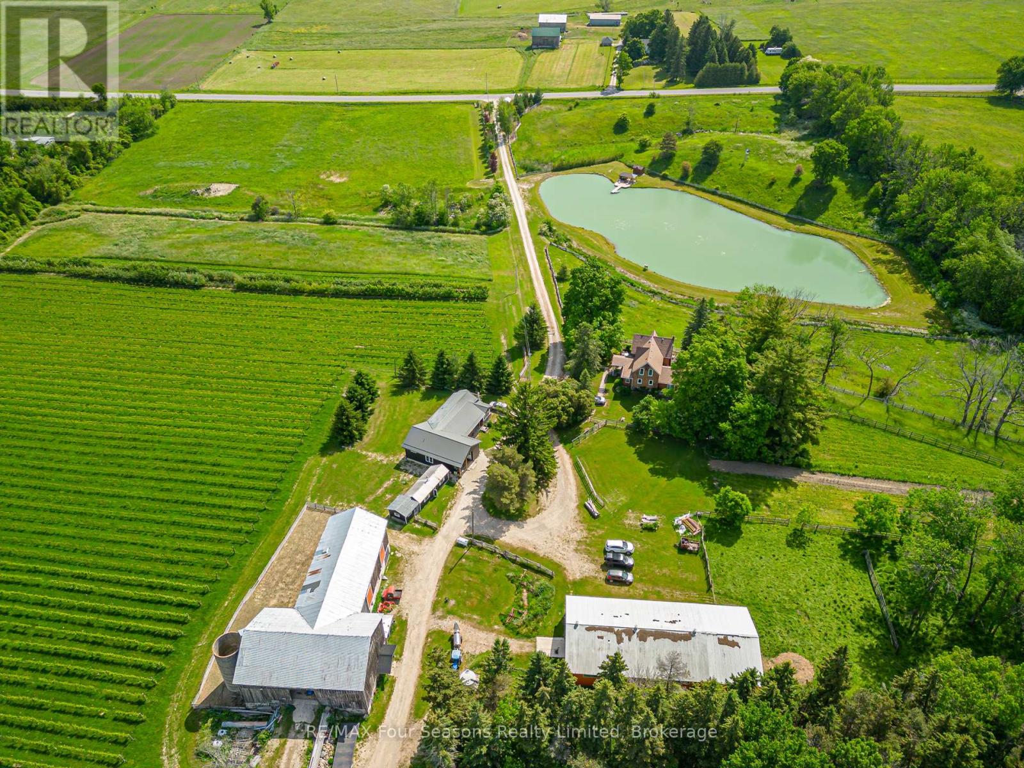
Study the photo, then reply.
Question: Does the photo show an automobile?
Yes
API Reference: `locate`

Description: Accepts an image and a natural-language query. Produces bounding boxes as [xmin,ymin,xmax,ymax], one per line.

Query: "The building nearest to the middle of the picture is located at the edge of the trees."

[402,385,496,479]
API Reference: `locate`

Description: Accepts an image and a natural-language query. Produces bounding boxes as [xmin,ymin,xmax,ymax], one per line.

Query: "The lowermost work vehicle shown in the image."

[447,647,464,675]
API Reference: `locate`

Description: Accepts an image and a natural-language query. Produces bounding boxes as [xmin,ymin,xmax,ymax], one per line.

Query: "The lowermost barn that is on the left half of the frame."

[231,502,398,714]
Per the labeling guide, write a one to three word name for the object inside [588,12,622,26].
shed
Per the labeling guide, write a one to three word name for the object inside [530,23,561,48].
barn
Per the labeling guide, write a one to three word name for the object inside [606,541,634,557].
car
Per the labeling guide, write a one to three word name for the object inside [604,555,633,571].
car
